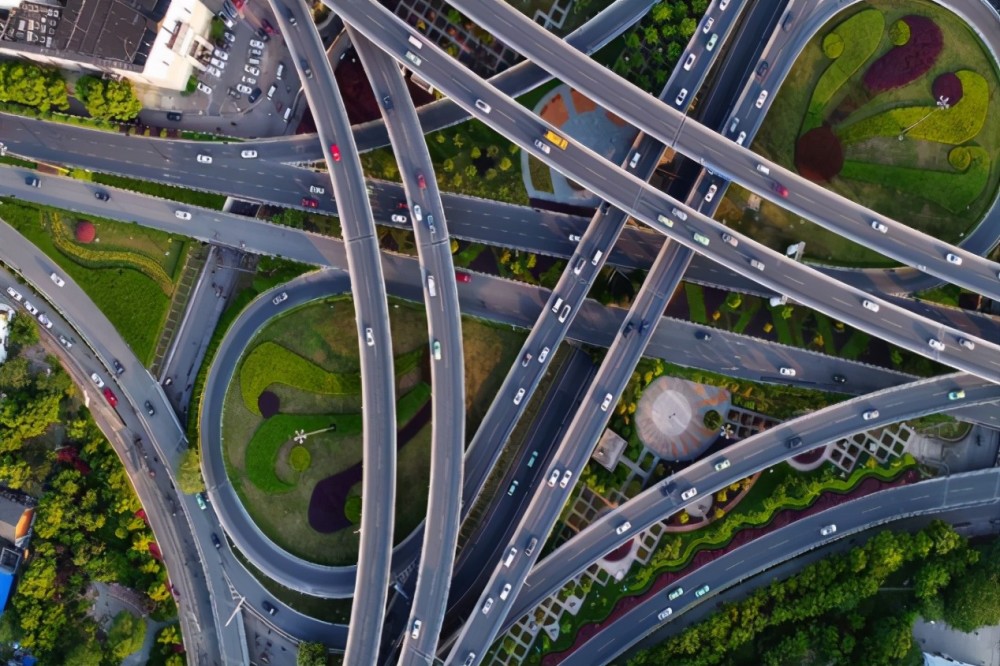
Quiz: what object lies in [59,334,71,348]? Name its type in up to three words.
vehicle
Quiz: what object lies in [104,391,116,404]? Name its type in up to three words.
vehicle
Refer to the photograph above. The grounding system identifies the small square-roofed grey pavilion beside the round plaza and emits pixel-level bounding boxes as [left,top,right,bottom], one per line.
[592,429,627,472]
